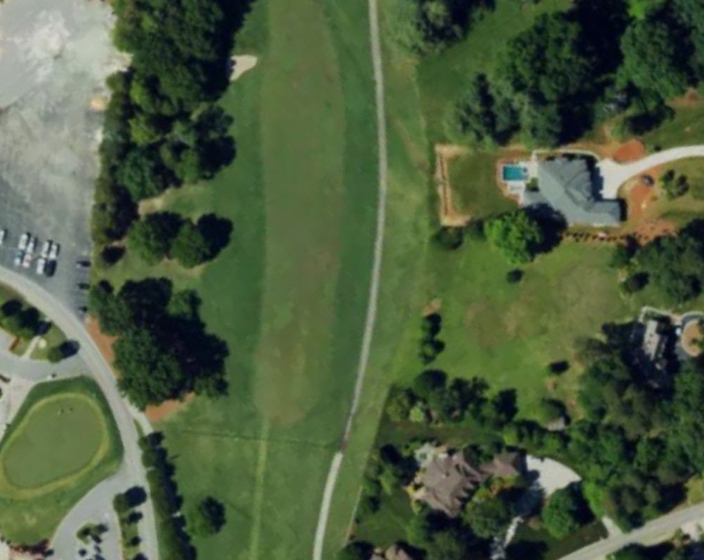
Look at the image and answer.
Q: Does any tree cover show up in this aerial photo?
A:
Yes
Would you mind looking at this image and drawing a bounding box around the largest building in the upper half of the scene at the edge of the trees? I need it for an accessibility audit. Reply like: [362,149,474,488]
[531,145,623,229]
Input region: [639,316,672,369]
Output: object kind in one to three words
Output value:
house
